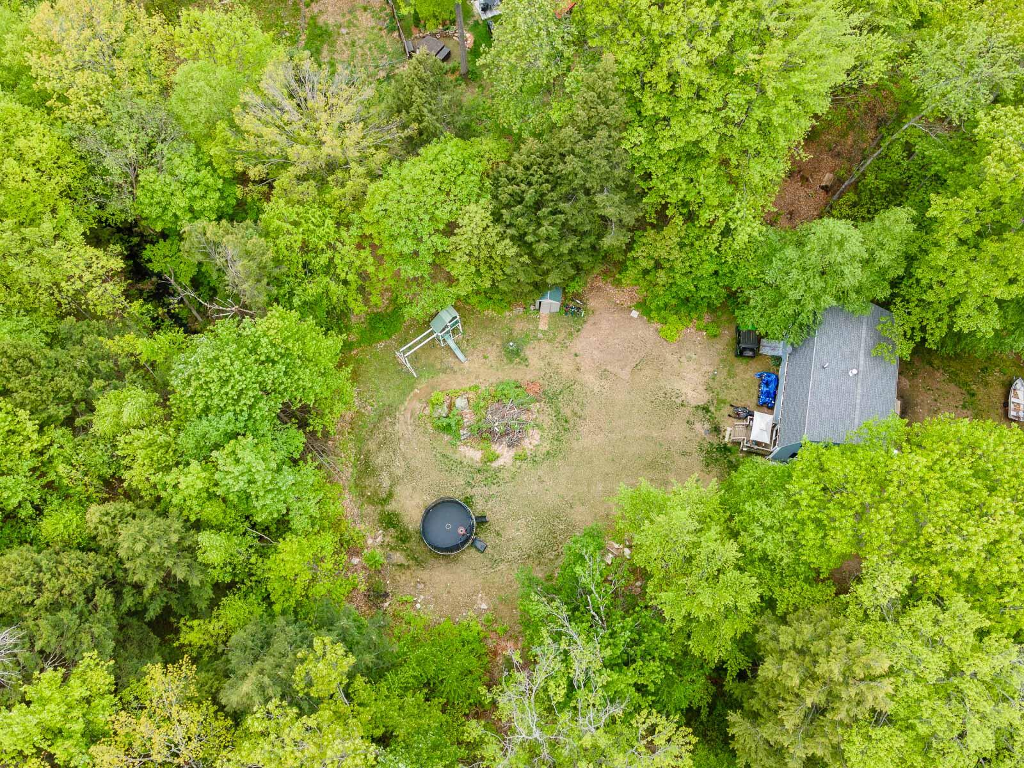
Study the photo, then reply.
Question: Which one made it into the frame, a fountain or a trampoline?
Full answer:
Looking from above, you can make out a trampoline.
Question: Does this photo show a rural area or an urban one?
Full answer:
The land in this view is best described as rural.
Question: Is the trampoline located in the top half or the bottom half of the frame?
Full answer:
The trampoline is in the bottom half of the image.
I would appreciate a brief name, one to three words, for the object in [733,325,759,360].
vehicle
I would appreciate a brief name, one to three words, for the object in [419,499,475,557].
trampoline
